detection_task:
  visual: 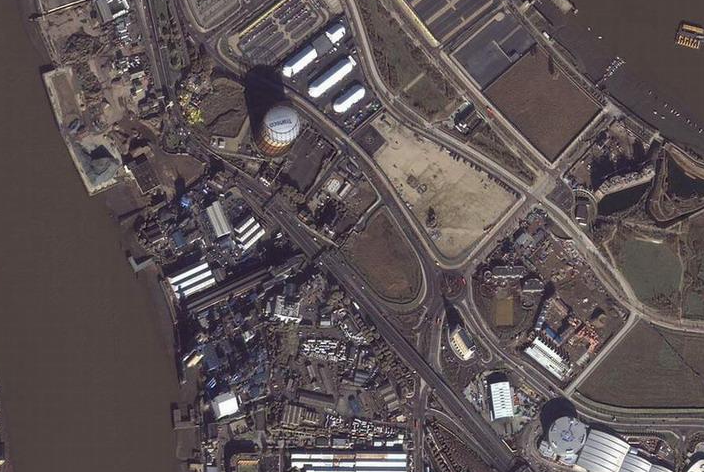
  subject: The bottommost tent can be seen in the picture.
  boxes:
[332,89,363,116]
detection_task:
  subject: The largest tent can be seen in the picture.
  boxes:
[306,62,350,101]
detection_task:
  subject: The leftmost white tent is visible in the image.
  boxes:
[282,50,315,78]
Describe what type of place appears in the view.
port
